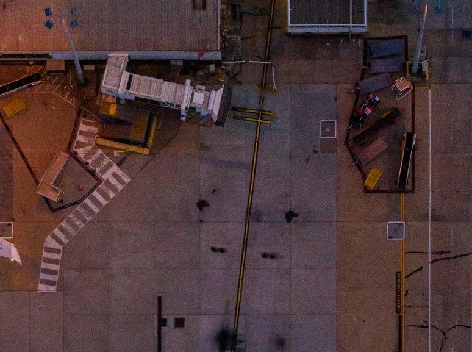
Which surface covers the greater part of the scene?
paved ground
